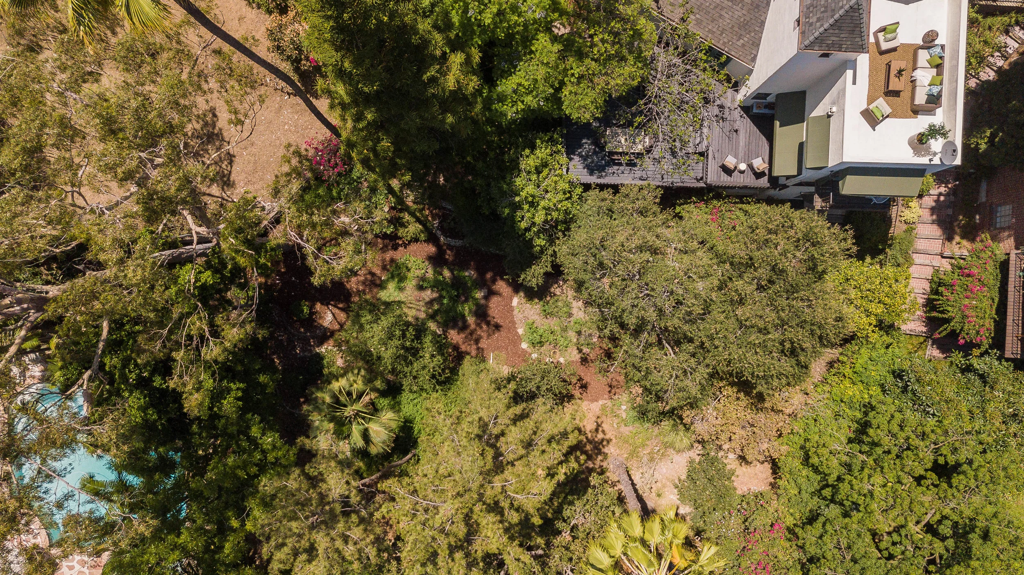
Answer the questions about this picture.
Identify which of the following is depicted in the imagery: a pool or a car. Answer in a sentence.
It is a pool that can be seen here.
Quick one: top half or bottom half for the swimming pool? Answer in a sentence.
It is in the bottom half that the swimming pool appears.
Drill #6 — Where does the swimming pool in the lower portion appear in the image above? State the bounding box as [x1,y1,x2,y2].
[9,381,191,539]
